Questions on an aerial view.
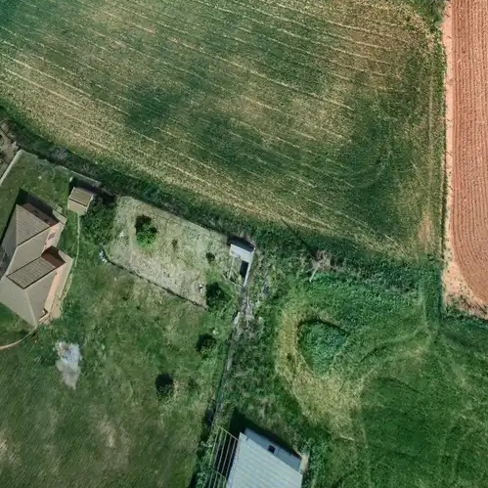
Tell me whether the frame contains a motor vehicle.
No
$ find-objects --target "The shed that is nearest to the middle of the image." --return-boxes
[229,239,260,262]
